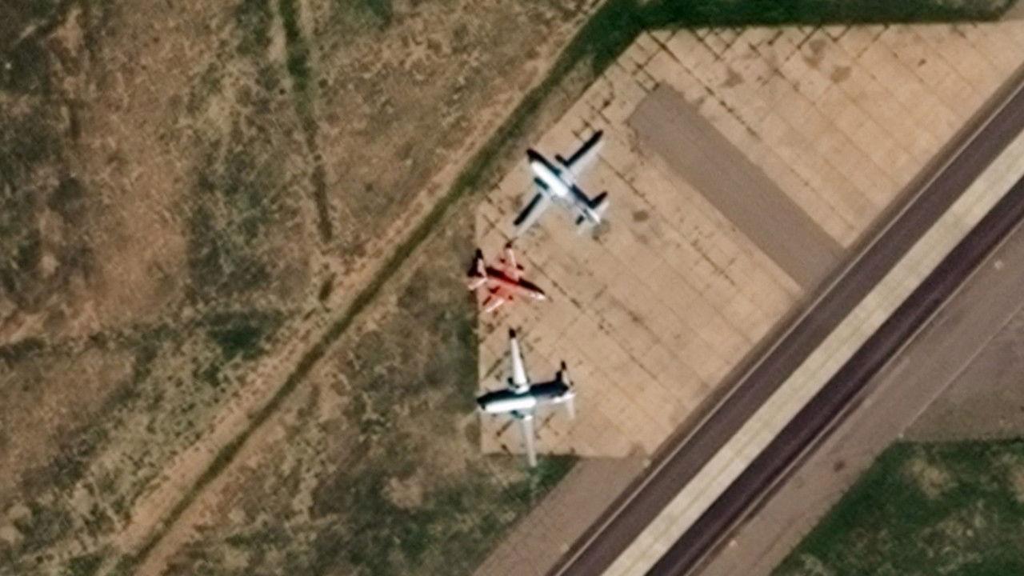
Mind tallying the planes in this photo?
three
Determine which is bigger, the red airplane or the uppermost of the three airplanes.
the uppermost of the three airplanes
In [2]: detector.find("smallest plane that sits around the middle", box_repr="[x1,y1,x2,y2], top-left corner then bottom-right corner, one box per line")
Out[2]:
[469,250,546,314]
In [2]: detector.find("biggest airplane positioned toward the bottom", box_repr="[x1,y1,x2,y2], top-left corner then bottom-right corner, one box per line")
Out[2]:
[482,339,575,464]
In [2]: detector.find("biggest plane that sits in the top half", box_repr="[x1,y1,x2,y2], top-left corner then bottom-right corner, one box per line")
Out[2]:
[517,141,607,235]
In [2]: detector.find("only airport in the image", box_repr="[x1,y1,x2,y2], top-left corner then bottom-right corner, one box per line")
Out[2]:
[469,0,1024,576]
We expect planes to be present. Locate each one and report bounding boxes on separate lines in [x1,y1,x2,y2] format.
[517,141,607,235]
[482,339,575,464]
[469,250,546,314]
